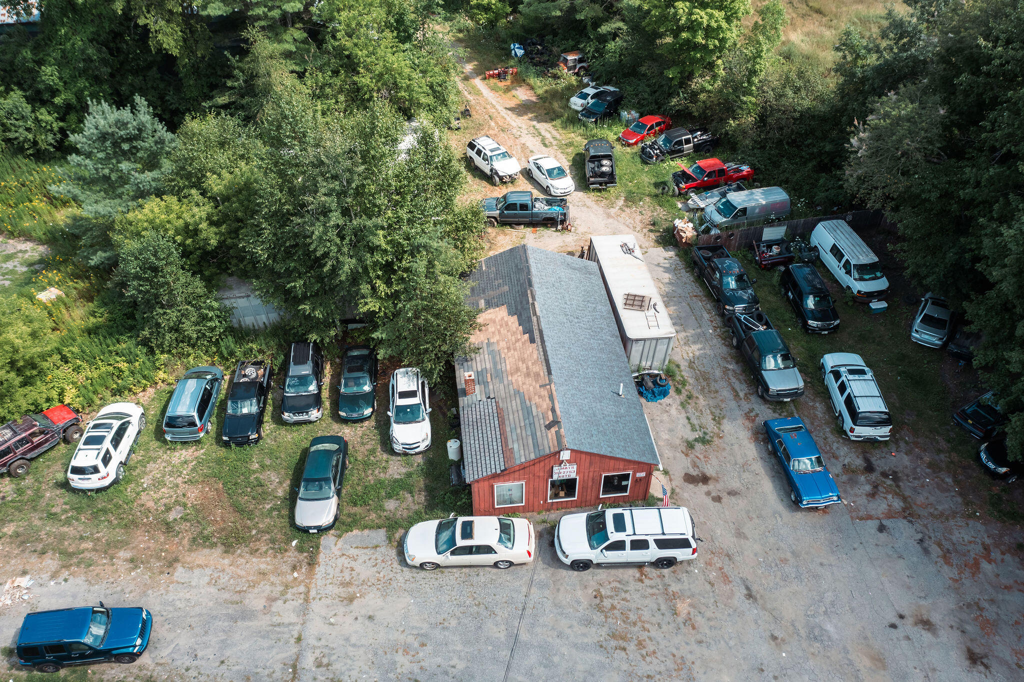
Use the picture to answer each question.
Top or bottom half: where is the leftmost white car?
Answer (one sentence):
It is in the bottom half that the leftmost white car appears.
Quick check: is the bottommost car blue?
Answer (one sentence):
Yes, the bottommost car is indeed blue.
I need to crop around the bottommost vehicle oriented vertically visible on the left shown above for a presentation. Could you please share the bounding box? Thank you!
[295,435,351,533]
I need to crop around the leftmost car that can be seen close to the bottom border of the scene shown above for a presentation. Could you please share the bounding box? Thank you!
[5,603,154,677]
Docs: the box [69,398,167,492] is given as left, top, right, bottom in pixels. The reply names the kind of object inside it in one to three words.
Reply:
car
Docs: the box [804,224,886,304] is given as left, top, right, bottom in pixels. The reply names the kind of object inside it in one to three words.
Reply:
van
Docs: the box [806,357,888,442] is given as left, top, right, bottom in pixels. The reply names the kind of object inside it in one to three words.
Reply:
car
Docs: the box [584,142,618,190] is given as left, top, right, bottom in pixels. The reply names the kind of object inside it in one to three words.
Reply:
truck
